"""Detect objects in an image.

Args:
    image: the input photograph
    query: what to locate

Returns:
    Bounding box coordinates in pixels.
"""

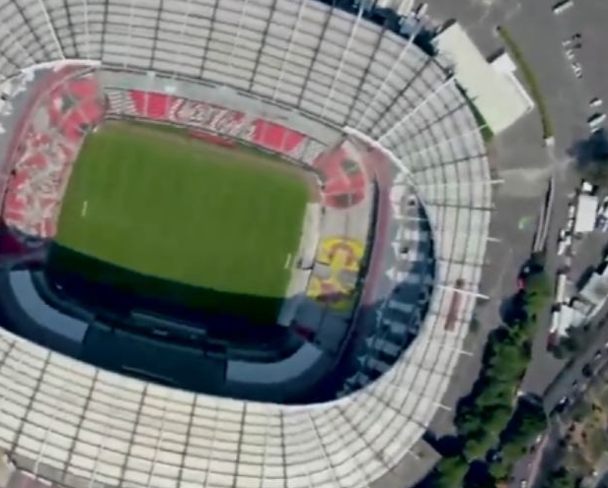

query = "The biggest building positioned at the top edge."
[427,21,537,137]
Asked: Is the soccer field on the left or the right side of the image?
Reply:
left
